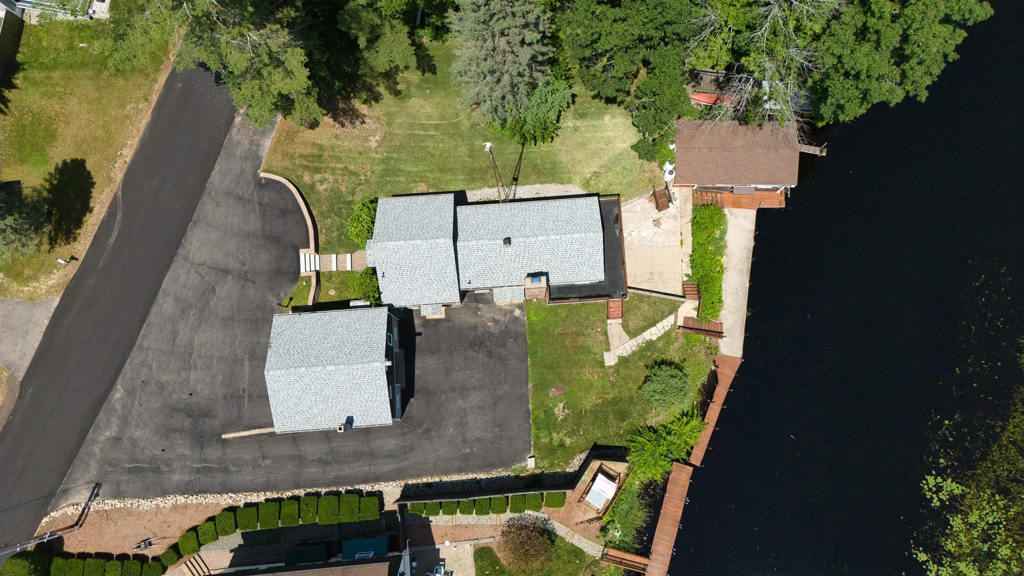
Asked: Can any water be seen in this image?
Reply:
Yes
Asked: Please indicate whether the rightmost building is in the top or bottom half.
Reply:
top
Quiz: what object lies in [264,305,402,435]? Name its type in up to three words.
building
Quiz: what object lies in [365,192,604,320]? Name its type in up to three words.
house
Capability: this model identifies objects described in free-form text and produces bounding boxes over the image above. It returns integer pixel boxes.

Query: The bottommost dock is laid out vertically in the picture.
[646,462,693,576]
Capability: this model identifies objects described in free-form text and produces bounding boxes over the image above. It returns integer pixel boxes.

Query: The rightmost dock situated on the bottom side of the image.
[689,355,744,468]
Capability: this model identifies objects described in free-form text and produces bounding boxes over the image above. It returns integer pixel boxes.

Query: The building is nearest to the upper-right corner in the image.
[670,119,801,197]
